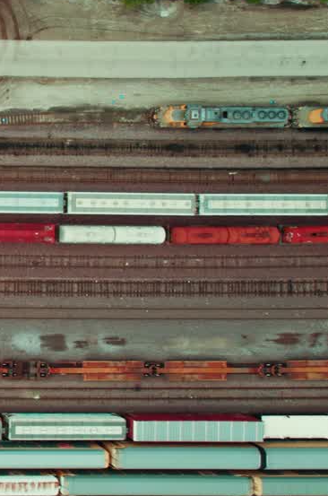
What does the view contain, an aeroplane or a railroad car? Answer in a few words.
railroad car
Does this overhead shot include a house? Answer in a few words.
No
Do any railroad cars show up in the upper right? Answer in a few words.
Yes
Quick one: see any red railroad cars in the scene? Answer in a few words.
Yes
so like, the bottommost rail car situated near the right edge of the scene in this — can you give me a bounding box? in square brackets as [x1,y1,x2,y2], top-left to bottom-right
[240,466,328,496]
